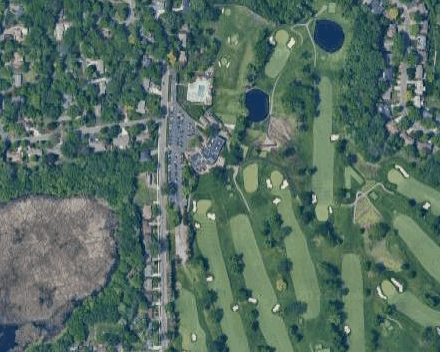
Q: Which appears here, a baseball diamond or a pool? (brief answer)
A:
pool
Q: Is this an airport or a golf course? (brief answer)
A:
golf course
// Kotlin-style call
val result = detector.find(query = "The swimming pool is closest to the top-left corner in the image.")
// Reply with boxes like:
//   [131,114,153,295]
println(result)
[187,77,211,105]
